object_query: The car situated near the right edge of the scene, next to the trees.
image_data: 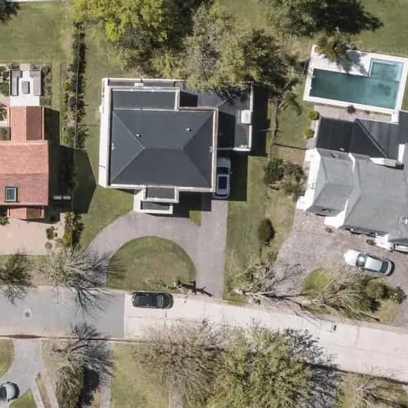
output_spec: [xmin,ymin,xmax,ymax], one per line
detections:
[343,248,393,275]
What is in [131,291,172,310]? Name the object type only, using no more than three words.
car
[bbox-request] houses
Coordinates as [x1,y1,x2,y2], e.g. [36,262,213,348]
[0,106,49,218]
[287,110,408,253]
[98,79,253,213]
